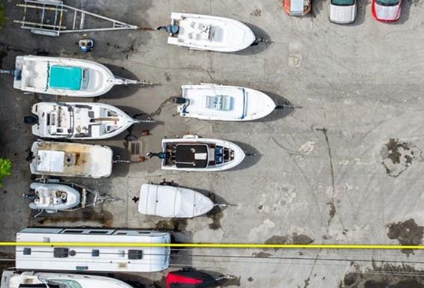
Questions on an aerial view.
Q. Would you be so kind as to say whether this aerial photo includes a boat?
Yes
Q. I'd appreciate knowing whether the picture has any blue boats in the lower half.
No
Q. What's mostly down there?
paved ground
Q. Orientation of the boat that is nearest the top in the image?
horizontally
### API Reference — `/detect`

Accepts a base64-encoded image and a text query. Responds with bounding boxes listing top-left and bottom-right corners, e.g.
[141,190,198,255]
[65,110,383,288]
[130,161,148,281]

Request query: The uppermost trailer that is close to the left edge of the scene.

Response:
[19,0,147,35]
